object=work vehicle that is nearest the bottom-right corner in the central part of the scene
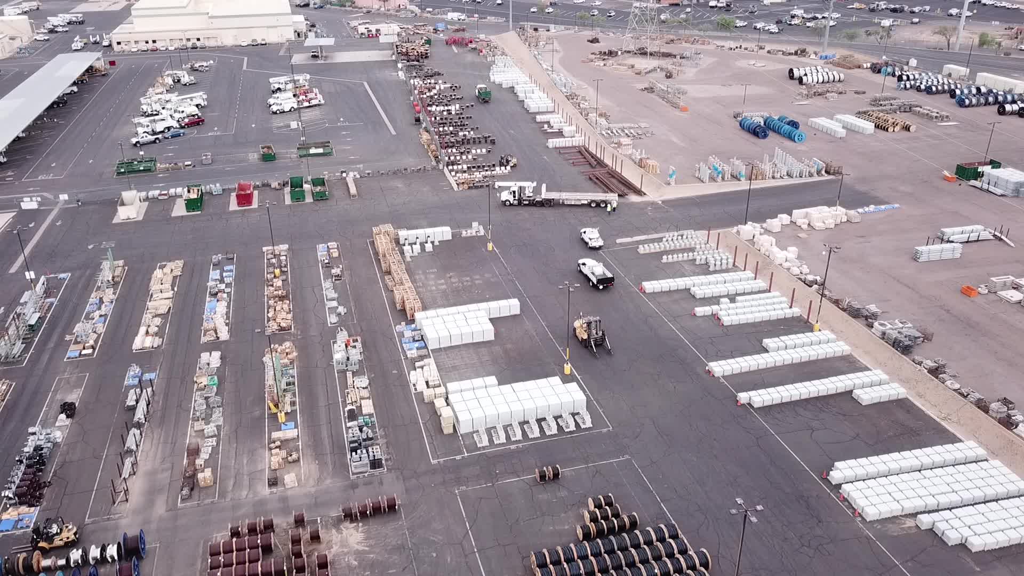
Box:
[572,312,613,357]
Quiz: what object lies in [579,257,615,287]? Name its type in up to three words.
truck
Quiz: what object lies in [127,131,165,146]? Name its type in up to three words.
vehicle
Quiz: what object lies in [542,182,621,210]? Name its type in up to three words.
trailer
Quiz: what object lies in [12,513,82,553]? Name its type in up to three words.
work vehicle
